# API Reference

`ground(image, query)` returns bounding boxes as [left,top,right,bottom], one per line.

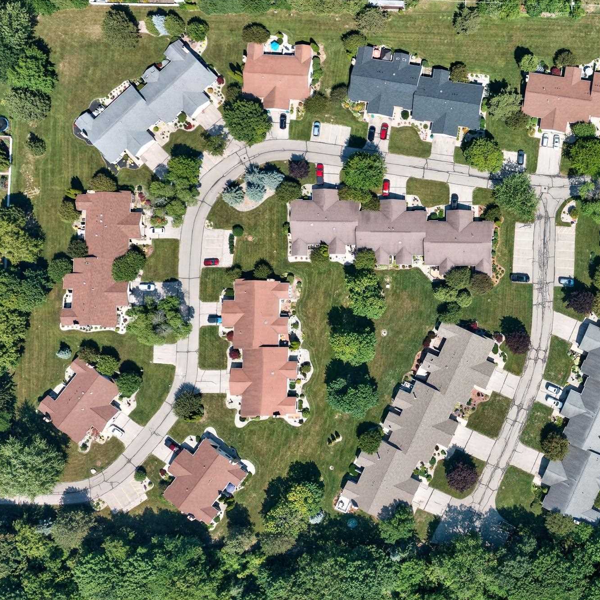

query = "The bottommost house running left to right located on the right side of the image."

[286,188,497,277]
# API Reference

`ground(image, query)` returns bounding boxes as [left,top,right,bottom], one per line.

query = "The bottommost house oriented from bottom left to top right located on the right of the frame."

[341,322,497,520]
